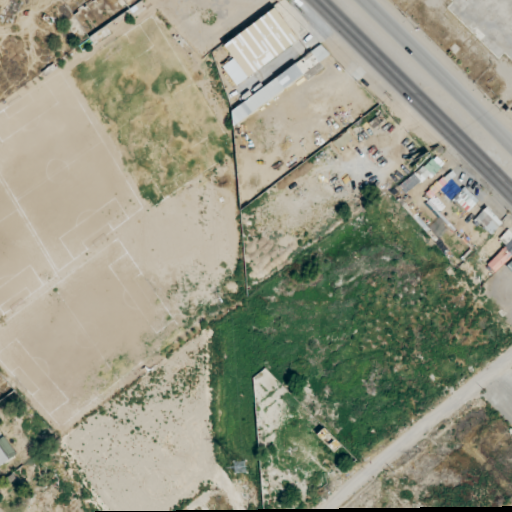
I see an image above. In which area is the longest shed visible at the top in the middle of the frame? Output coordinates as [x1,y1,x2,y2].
[228,44,330,124]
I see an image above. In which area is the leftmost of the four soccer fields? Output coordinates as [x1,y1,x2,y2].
[0,180,56,318]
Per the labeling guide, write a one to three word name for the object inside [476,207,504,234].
house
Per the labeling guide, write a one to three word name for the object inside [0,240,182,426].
soccer field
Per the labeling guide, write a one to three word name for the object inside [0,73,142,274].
soccer field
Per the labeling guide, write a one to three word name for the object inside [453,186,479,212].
building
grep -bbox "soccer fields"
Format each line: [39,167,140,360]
[0,180,56,318]
[0,240,182,426]
[65,18,232,204]
[0,73,142,274]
